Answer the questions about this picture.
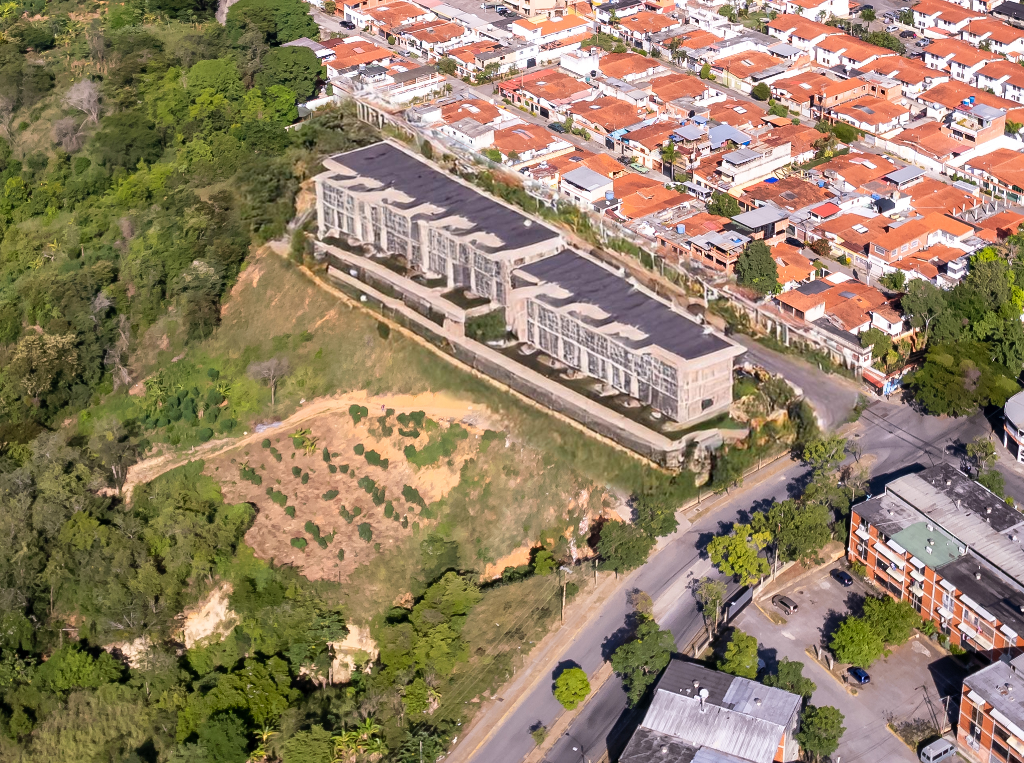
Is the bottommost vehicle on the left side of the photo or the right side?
right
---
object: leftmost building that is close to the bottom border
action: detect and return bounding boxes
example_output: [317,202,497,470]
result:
[620,656,811,763]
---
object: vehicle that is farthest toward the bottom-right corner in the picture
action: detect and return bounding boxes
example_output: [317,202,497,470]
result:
[916,736,960,763]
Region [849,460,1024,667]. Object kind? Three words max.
building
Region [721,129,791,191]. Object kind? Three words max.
house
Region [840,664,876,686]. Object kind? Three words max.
car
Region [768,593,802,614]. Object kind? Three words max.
car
